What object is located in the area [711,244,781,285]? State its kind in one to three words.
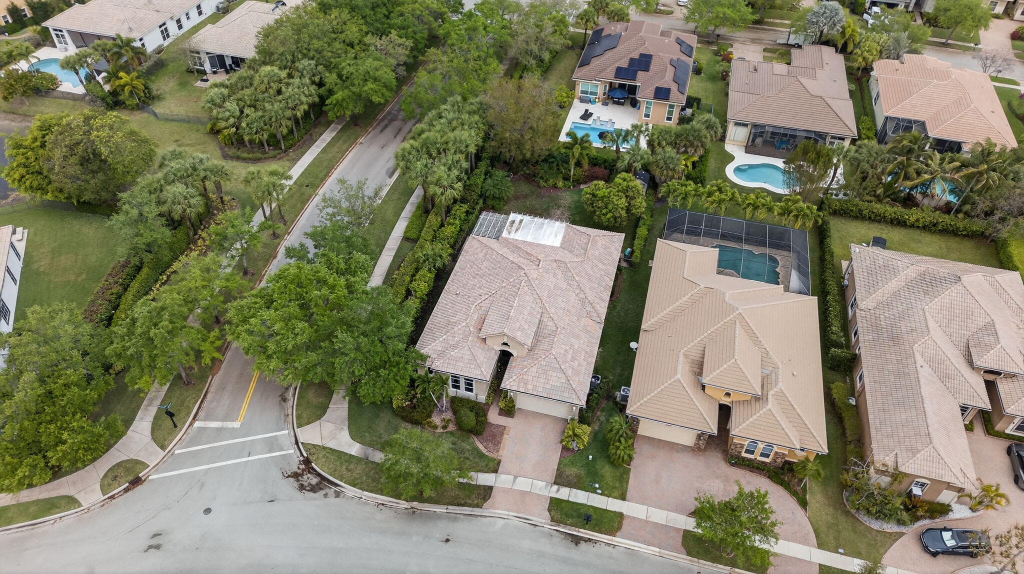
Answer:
swimming pool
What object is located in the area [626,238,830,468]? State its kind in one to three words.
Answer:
house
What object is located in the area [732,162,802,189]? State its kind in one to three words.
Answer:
swimming pool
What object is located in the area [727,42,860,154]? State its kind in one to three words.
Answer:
house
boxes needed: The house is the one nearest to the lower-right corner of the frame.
[845,242,1024,507]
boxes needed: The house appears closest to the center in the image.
[417,222,626,421]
